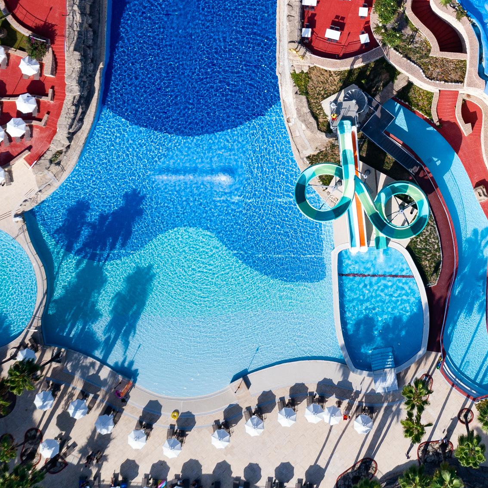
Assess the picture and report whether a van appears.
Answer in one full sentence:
No, I can see no van in this picture.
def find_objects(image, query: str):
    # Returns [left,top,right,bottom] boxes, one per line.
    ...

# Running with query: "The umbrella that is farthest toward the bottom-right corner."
[353,414,373,434]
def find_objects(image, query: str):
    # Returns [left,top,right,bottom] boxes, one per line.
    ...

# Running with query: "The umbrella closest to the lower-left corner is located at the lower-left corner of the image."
[39,437,60,458]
